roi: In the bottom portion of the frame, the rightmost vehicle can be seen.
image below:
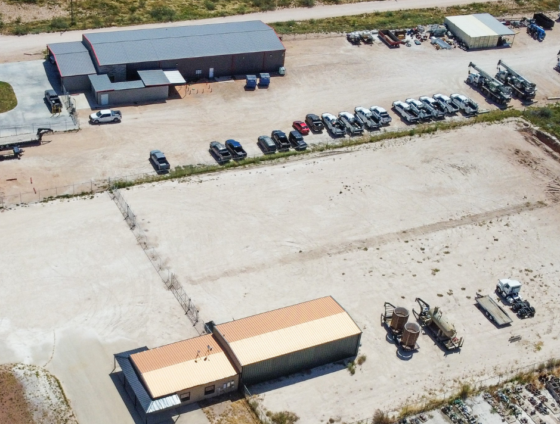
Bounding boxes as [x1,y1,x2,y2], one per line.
[501,285,537,319]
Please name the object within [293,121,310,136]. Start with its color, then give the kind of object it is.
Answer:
red car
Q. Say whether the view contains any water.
No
